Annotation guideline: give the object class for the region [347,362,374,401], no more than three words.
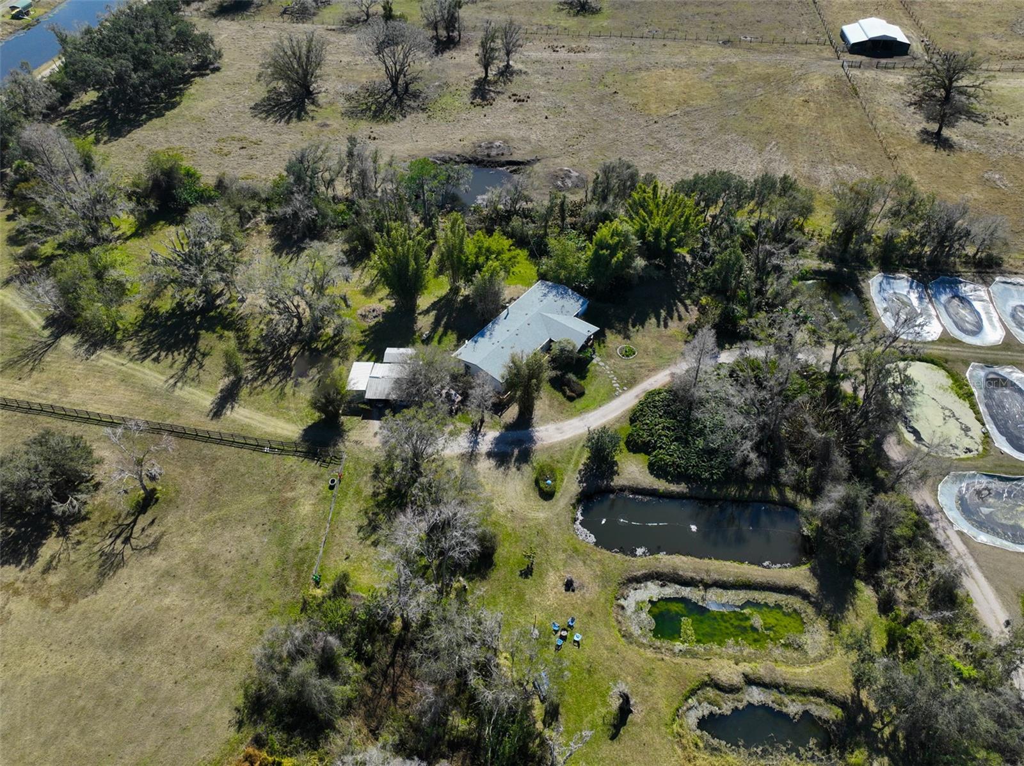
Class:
shed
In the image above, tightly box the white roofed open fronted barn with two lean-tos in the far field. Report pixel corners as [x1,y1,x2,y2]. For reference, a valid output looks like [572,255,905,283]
[840,18,914,55]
